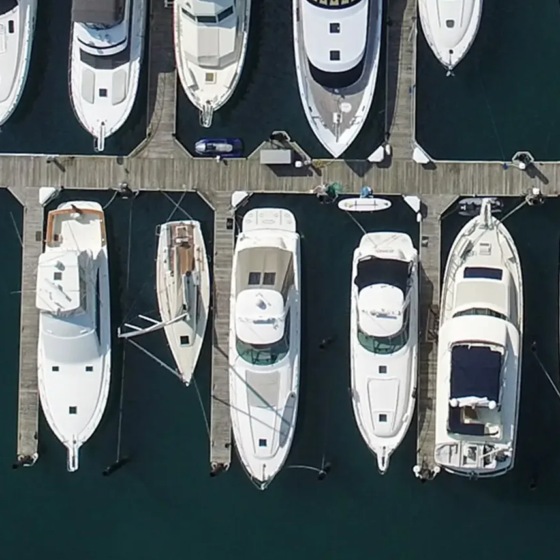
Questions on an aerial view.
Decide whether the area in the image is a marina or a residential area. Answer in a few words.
marina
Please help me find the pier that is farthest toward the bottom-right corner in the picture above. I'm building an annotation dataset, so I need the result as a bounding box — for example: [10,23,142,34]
[405,195,459,478]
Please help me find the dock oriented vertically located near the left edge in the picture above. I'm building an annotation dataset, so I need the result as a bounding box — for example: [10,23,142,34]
[7,189,62,466]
